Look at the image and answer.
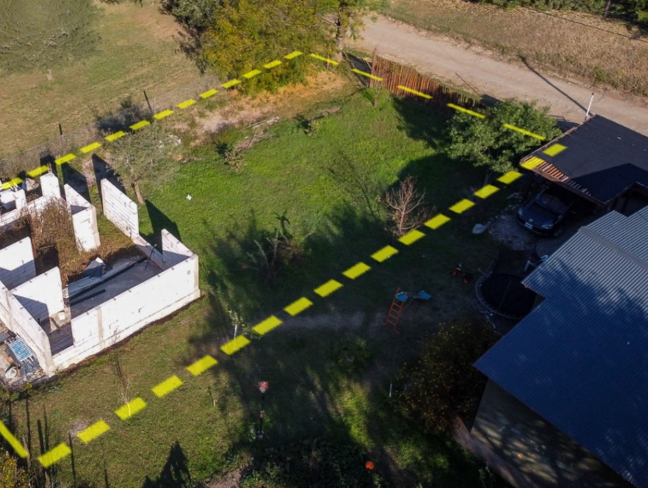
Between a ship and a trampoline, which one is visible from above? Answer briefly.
trampoline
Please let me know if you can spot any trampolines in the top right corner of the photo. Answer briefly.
No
